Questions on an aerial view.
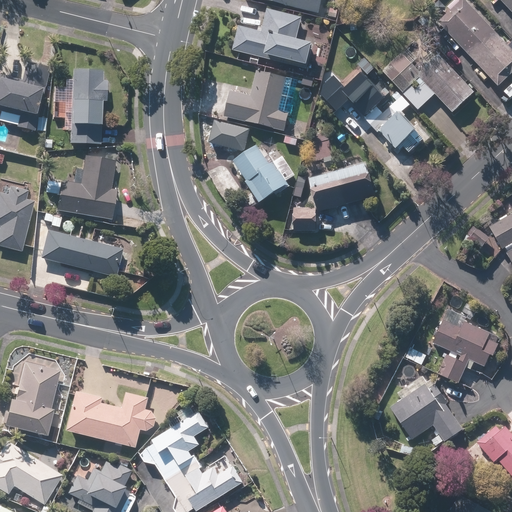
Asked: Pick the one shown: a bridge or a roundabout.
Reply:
roundabout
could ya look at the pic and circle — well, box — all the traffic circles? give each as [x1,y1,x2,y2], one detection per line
[234,296,316,378]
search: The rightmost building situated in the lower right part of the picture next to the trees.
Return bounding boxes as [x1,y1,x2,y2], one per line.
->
[476,414,512,480]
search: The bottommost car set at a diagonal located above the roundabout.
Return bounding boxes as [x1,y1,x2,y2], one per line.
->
[253,264,268,277]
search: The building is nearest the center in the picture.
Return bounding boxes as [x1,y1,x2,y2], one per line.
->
[292,206,318,232]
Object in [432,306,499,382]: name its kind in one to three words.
house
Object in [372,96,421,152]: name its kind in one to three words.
house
